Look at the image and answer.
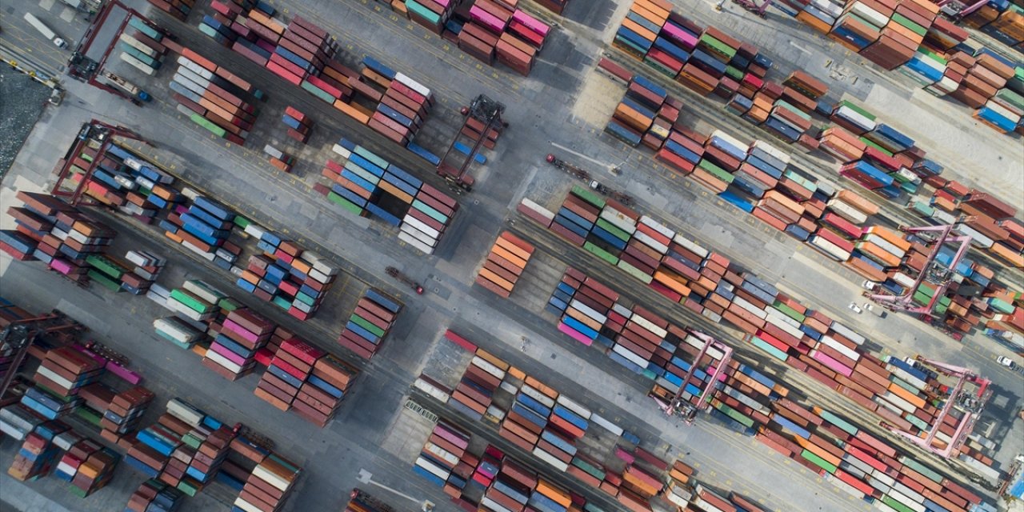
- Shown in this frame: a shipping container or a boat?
shipping container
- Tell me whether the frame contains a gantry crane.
Yes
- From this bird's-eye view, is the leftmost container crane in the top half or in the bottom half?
bottom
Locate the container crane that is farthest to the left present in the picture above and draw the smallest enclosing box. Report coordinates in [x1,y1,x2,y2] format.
[0,307,92,409]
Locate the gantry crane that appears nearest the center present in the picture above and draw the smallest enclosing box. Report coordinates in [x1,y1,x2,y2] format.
[431,88,512,196]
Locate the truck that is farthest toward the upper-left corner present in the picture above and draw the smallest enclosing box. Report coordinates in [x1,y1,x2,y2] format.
[24,11,71,53]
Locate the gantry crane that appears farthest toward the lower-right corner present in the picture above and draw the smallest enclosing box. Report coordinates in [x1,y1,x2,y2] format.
[877,354,993,461]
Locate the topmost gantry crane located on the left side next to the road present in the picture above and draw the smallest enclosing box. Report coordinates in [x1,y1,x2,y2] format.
[59,0,179,108]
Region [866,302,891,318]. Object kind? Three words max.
vehicle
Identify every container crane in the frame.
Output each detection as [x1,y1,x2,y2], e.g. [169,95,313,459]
[737,0,779,20]
[642,324,738,428]
[43,116,163,222]
[0,307,92,409]
[877,354,993,461]
[431,88,512,196]
[59,0,179,108]
[860,222,977,315]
